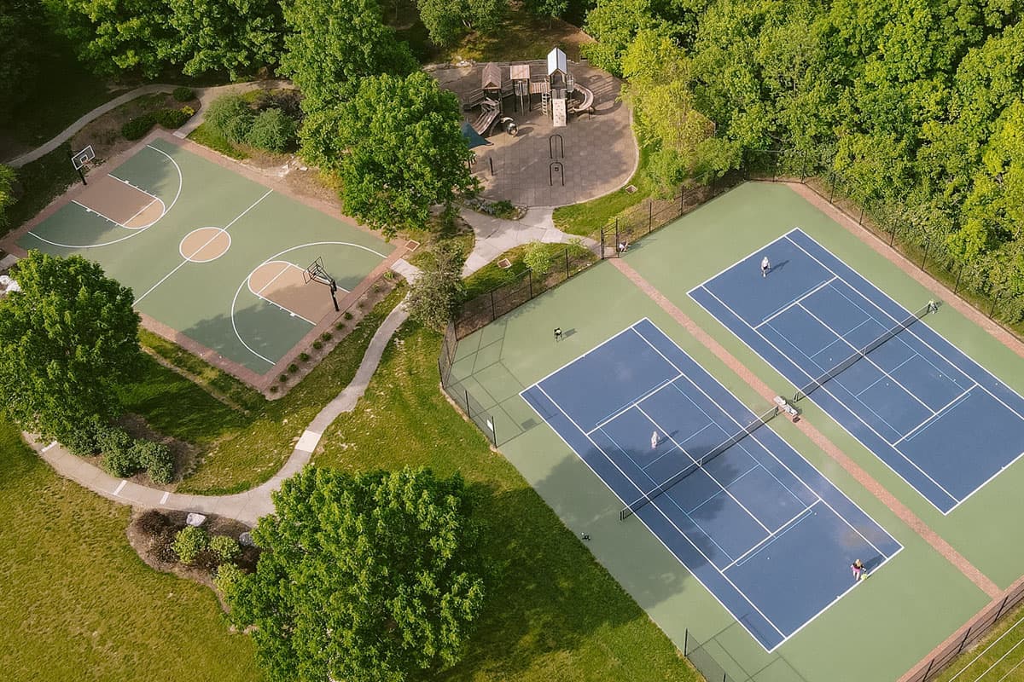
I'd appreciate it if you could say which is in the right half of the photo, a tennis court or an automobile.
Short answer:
tennis court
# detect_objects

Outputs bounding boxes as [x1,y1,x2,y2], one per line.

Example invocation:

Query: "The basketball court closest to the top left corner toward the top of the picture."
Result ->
[0,124,410,392]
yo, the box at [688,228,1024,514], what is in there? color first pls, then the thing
blue tennis court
